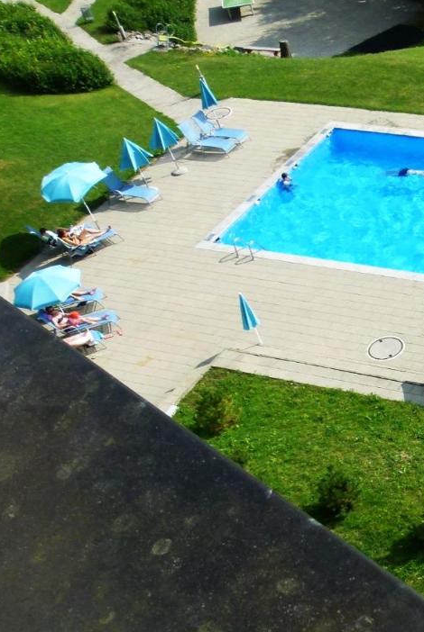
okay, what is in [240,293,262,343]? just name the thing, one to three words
umbrella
